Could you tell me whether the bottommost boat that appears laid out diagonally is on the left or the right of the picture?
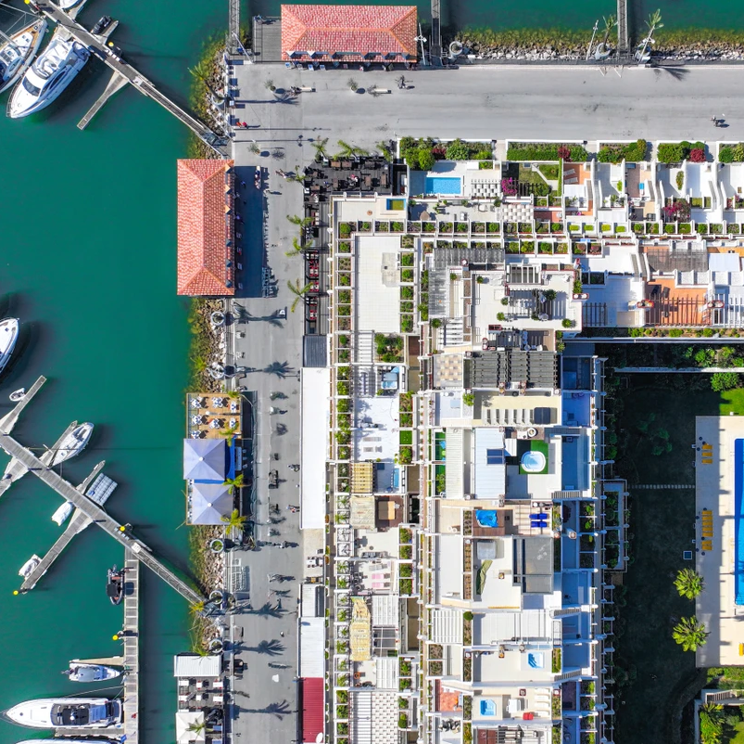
left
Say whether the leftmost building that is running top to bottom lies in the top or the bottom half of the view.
top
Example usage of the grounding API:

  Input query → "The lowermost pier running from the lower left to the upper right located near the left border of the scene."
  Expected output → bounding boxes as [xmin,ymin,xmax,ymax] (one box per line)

[21,508,93,593]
